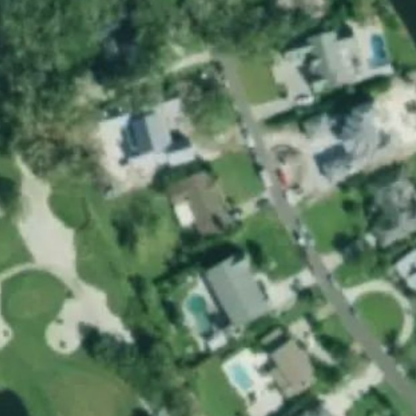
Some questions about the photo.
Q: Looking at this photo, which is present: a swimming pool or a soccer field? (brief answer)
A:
swimming pool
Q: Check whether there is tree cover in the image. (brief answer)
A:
Yes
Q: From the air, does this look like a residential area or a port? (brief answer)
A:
residential area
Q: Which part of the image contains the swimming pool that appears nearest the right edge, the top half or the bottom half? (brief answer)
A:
top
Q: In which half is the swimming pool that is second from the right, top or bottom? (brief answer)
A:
bottom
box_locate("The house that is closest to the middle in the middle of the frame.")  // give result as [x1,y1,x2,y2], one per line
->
[181,172,233,235]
